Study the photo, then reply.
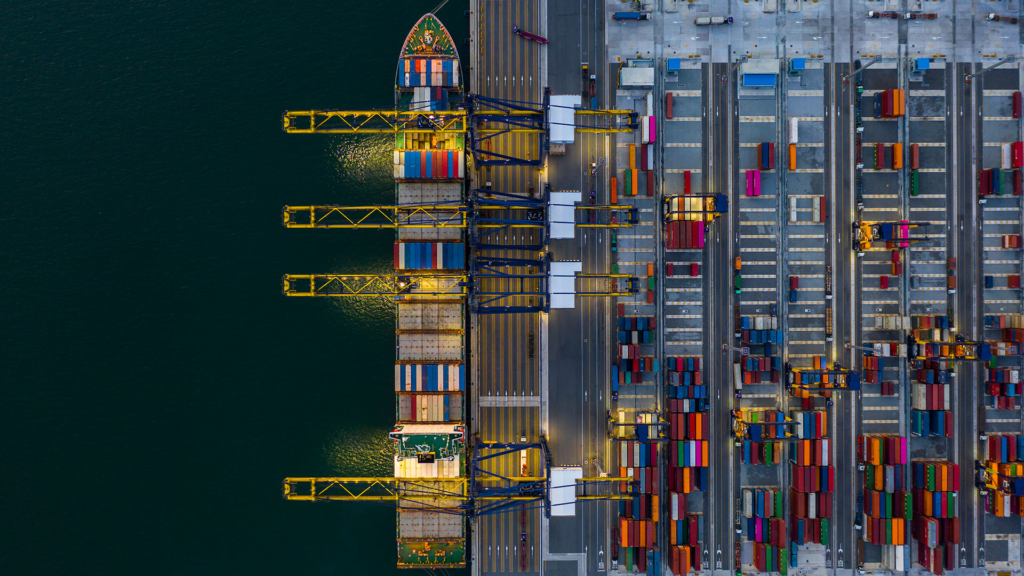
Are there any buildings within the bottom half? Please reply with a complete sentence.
No, I can find no building within the bottom half.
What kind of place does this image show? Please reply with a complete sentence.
The area seen from above is a port.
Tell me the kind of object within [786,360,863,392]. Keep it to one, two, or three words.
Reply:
crane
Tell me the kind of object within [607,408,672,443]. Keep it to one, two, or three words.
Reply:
crane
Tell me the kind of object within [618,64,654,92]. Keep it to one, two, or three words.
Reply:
building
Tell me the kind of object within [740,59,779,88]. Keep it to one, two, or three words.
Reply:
building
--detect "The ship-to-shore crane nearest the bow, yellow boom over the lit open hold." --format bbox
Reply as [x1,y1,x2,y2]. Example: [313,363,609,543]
[279,88,639,178]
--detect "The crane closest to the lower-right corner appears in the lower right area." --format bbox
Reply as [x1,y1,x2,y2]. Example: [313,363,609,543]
[977,458,1024,496]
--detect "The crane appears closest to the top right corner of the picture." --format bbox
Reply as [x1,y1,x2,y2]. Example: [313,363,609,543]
[853,219,934,251]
